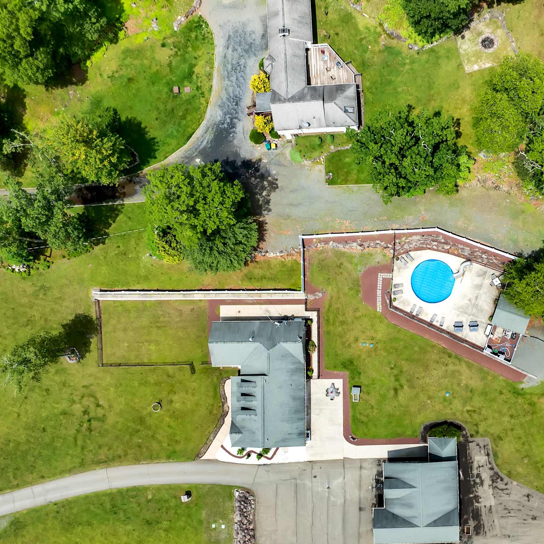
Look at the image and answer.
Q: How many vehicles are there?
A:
0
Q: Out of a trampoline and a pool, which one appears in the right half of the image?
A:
pool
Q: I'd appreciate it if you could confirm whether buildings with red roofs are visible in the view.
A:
No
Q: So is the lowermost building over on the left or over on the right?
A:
right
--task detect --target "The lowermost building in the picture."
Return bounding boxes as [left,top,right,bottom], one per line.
[373,461,460,544]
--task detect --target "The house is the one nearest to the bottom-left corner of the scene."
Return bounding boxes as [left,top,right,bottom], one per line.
[208,321,308,448]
